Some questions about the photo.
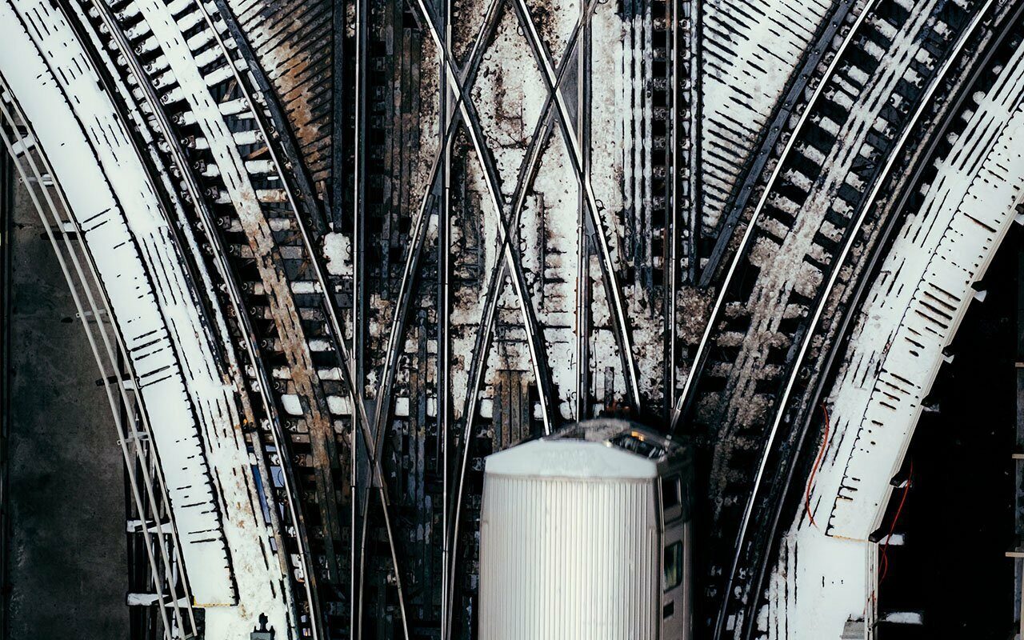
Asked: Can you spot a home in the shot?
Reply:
No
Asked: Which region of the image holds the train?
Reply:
bottom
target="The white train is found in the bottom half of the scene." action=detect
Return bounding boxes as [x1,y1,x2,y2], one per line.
[479,418,695,640]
